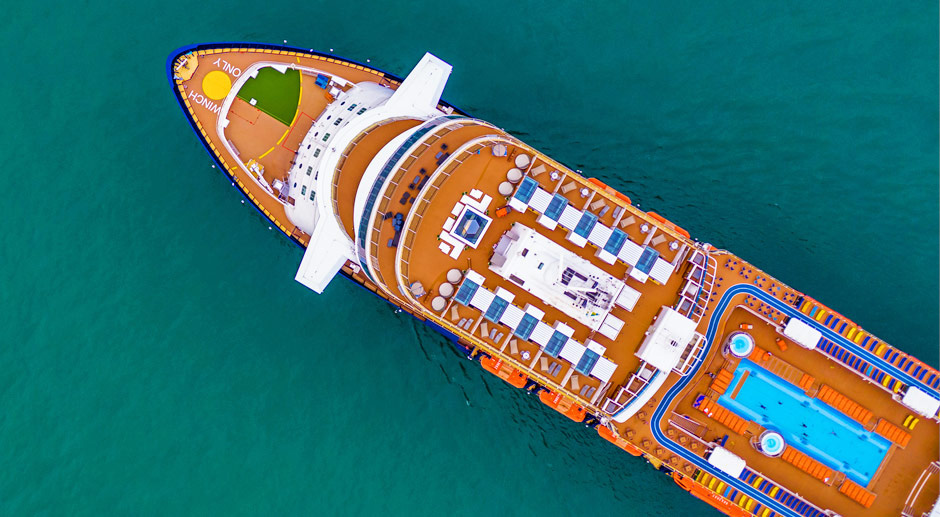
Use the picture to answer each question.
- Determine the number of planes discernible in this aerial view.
zero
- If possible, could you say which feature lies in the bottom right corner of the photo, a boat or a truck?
boat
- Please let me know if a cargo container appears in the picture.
No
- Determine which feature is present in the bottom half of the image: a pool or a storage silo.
pool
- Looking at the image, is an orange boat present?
Yes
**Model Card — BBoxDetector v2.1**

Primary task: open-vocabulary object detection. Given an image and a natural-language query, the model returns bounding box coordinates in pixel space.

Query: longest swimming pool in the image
[691,344,912,509]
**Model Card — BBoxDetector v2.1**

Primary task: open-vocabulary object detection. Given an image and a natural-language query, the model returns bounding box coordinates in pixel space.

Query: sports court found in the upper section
[239,68,300,127]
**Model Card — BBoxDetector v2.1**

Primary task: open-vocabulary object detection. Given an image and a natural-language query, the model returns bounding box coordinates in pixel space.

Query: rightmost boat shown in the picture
[890,343,940,370]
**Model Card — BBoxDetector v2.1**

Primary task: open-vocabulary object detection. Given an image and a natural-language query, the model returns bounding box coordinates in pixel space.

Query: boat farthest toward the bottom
[675,470,756,517]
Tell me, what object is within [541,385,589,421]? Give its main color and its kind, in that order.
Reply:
orange boat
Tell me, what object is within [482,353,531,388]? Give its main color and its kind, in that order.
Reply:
orange boat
